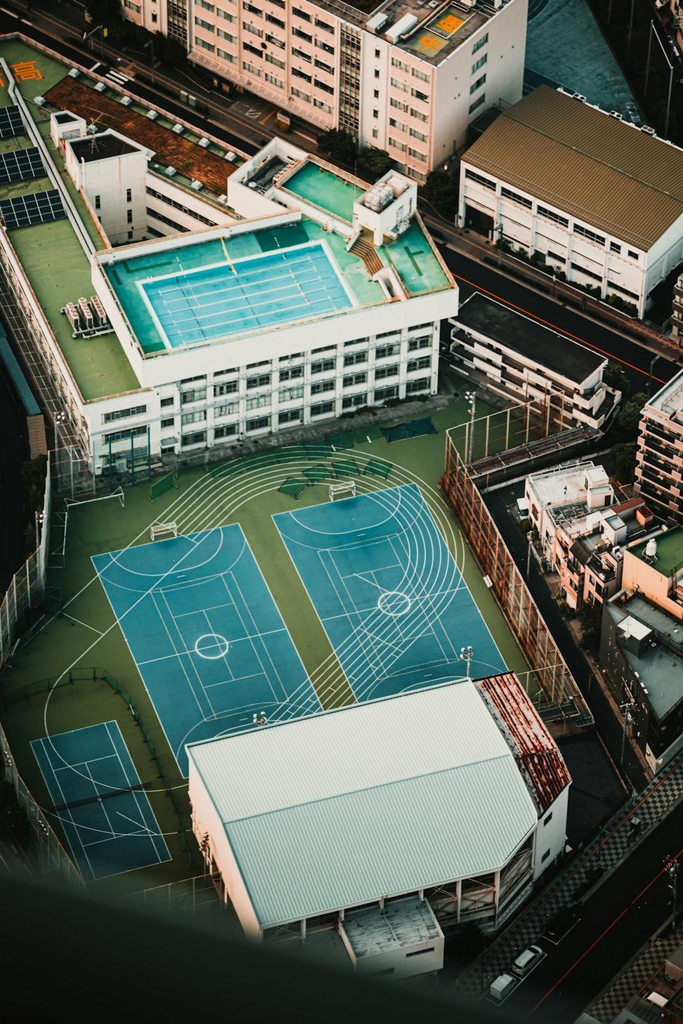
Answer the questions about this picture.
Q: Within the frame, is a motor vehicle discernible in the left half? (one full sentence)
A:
No, in the left half there is no motor vehicle.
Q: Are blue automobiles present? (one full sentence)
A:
No, no blue automobile is visible in the view.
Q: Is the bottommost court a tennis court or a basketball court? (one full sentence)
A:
It turns out the bottommost court is a tennis court.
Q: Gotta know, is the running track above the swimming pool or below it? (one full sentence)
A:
It's below the swimming pool that the running track shows up.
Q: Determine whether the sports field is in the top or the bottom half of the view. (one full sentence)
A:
Seen from above, the sports field lies in the top half of the view.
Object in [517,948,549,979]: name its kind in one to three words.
car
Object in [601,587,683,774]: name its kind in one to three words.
building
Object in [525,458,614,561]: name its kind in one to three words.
house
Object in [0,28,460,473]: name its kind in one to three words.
building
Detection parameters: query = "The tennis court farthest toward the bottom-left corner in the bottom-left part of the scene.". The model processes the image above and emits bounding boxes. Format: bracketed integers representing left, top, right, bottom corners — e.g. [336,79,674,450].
[31,720,172,876]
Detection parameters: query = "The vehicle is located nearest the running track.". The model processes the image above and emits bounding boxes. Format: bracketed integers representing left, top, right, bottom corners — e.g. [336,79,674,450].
[510,493,528,526]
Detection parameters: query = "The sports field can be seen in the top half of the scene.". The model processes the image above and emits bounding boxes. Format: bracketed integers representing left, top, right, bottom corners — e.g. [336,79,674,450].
[533,0,644,129]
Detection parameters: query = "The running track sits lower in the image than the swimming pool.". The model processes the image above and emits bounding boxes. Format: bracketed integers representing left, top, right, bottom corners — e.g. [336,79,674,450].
[0,435,466,839]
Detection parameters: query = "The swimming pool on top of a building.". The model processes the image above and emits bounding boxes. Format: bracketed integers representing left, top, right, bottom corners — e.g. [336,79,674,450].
[104,218,450,358]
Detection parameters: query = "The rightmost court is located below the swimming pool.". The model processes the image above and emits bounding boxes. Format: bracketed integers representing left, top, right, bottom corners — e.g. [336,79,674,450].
[274,483,507,696]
